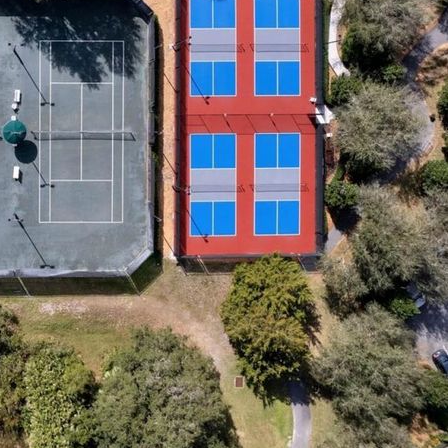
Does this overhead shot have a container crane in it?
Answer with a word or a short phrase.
No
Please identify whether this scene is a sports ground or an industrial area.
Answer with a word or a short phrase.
sports ground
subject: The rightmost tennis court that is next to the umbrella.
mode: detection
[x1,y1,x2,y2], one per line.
[15,0,149,271]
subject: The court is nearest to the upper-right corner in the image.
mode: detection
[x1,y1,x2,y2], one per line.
[245,0,315,114]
